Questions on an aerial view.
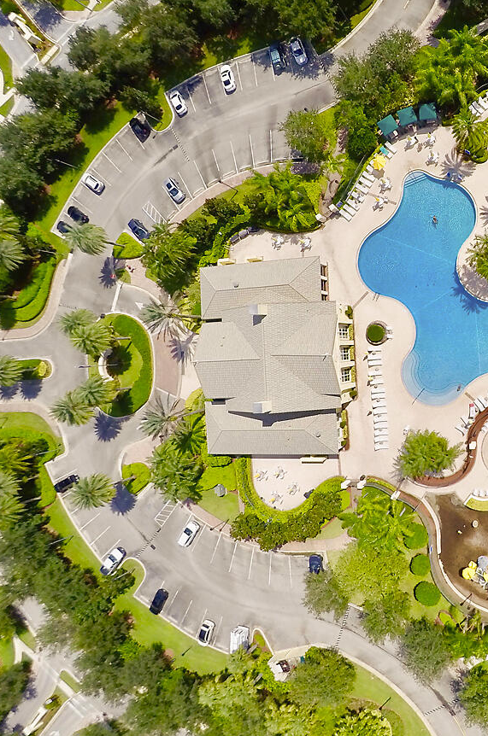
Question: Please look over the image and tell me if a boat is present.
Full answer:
No, there's no boat here.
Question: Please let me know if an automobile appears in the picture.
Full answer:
Yes, there is an automobile in the image.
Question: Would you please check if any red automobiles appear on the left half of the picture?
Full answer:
No, I see no red automobile on the left half of the picture.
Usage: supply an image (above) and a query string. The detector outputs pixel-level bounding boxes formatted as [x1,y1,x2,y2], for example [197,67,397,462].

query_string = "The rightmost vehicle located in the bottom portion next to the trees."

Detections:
[306,548,321,579]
